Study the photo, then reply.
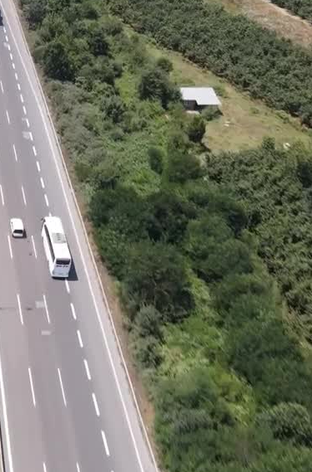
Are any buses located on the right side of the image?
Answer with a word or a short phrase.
No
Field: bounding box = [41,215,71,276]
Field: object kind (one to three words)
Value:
bus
